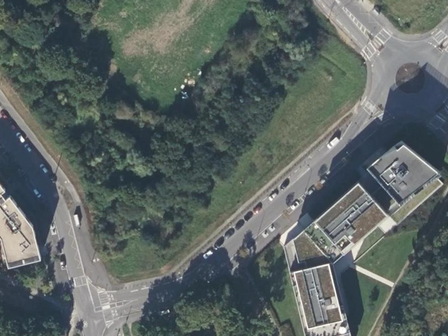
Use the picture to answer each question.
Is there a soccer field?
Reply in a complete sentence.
No, I can't see a single soccer field in this photo.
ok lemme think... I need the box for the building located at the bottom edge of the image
[284,224,352,336]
